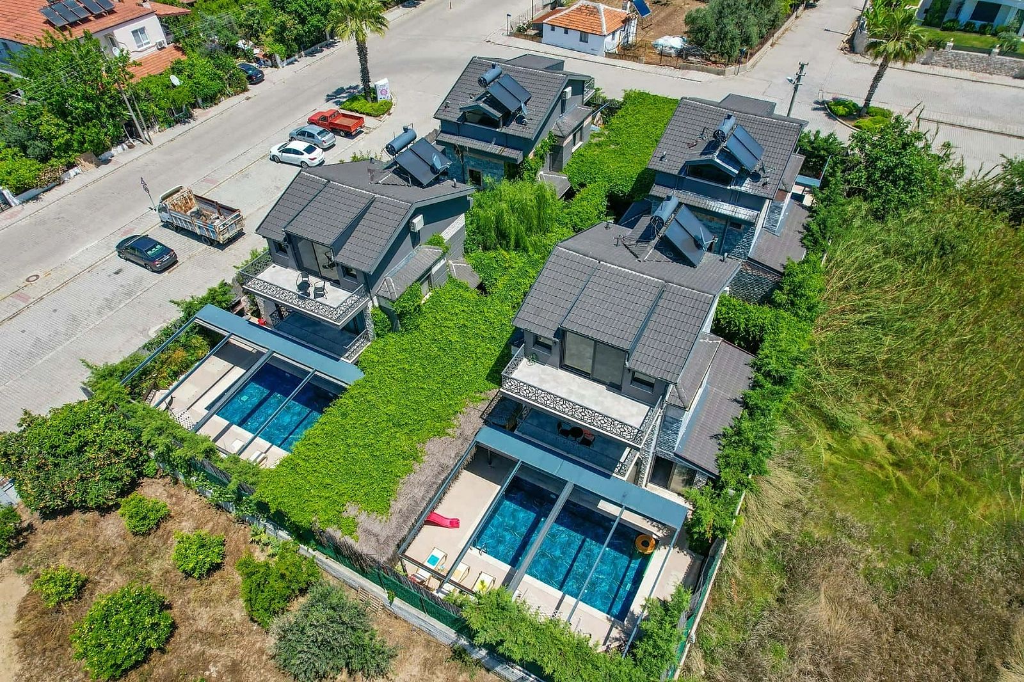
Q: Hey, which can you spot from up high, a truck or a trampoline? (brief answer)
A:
truck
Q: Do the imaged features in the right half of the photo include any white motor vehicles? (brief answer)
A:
No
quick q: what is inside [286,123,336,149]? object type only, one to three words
car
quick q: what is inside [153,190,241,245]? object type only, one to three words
truck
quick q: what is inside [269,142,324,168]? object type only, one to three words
car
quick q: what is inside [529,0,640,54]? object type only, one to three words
house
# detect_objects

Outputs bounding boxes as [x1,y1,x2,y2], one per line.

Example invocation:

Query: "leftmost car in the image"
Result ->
[112,235,179,272]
